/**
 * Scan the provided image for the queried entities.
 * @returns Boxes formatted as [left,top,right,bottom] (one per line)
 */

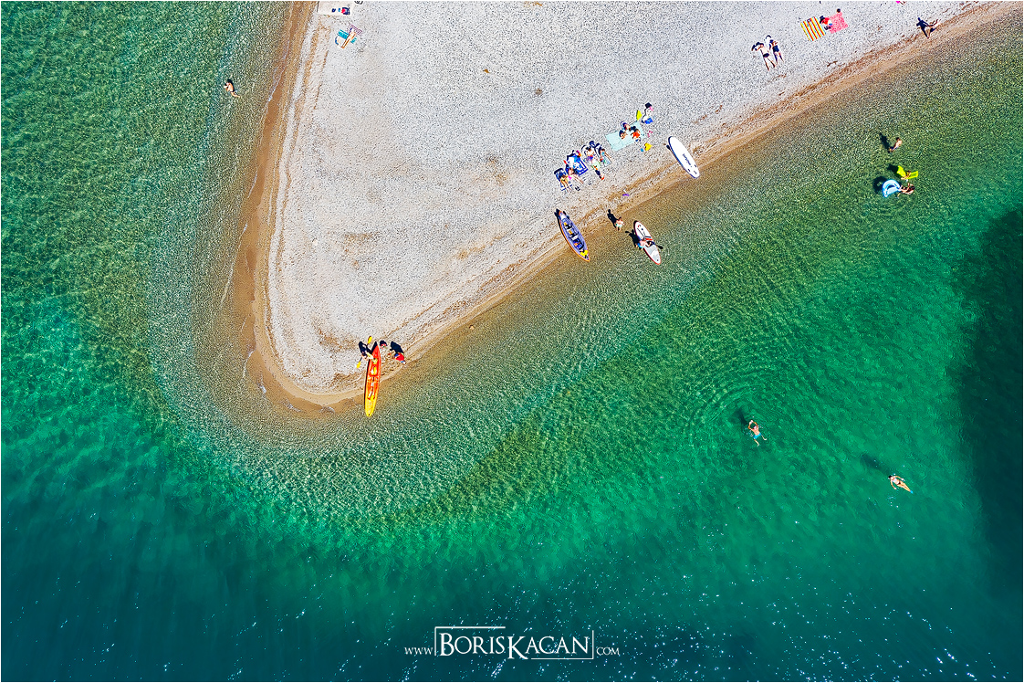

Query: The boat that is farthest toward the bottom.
[364,344,380,417]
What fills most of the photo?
water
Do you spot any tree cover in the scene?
No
